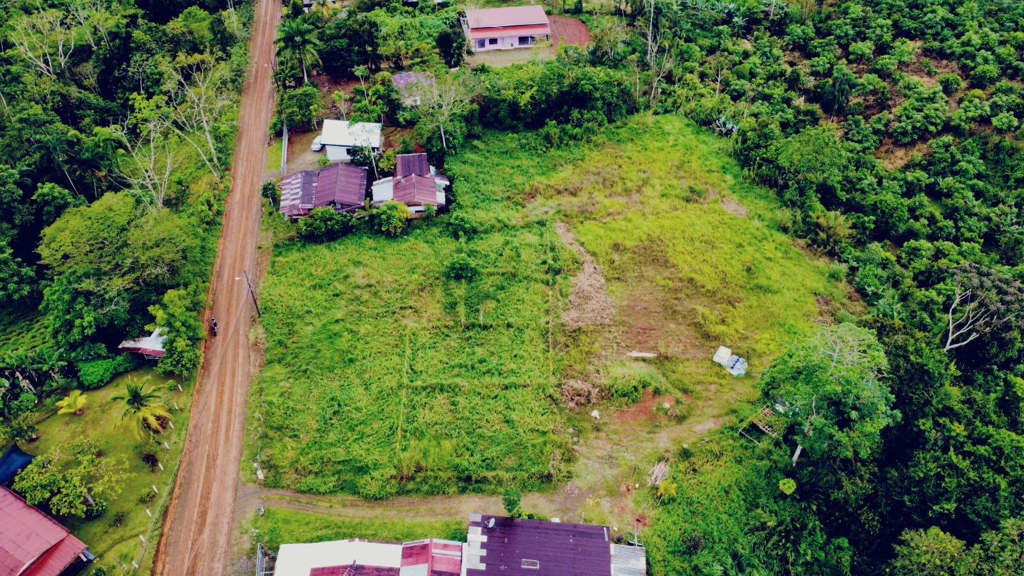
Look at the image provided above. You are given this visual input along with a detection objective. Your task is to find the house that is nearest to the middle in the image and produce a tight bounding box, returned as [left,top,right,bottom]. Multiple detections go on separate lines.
[369,151,458,226]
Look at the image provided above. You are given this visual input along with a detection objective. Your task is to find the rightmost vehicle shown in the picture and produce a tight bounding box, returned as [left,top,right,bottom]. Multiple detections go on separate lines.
[307,135,322,152]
